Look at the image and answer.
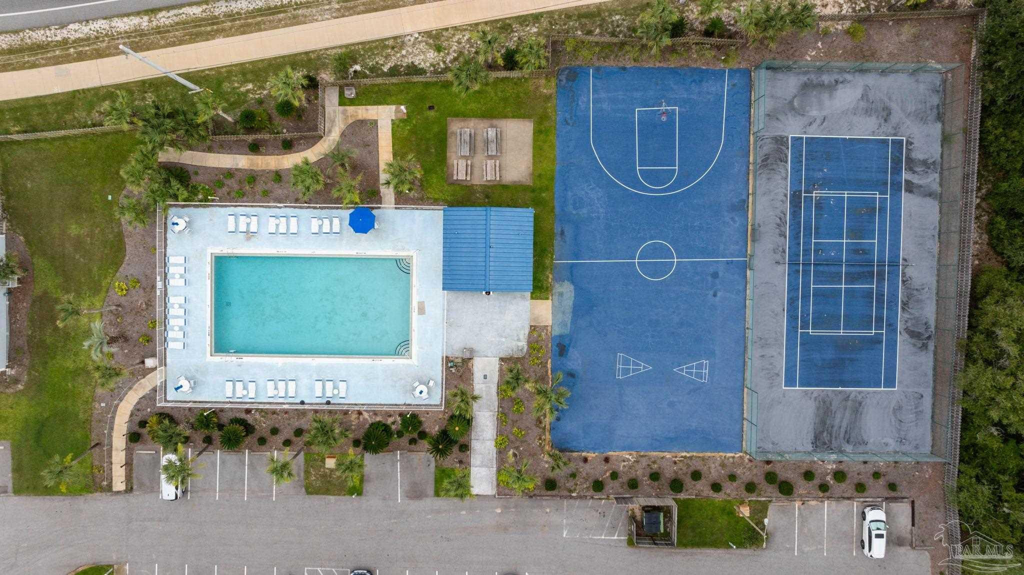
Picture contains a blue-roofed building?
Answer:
Yes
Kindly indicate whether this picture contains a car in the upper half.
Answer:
No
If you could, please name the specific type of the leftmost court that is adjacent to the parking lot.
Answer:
basketball court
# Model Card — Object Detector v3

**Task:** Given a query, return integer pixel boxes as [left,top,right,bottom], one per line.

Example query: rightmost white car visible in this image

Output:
[859,507,889,559]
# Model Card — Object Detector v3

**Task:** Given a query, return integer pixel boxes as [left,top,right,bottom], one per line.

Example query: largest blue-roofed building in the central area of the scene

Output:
[441,208,535,296]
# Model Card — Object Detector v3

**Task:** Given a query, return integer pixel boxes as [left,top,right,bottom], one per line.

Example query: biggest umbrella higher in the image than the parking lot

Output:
[348,207,375,234]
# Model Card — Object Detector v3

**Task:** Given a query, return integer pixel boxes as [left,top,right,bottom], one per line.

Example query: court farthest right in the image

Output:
[745,69,944,454]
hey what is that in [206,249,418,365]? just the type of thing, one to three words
swimming pool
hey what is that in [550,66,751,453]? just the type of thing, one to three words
basketball court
